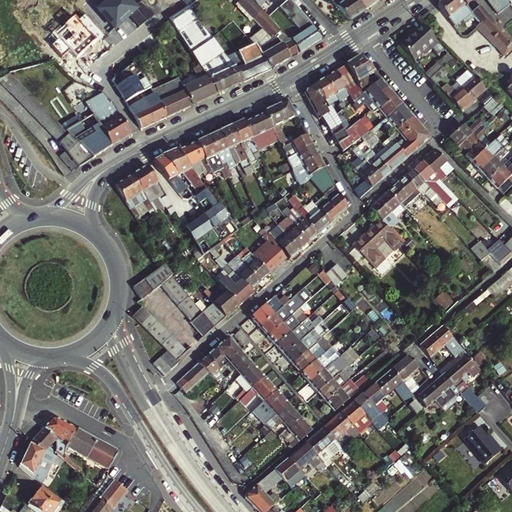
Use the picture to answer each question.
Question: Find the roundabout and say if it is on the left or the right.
left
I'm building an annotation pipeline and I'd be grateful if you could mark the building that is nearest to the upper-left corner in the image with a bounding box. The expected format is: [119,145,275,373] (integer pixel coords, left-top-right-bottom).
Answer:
[51,14,106,72]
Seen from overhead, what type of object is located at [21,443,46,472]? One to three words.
building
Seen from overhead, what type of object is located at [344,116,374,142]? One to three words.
house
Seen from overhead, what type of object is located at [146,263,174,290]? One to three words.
building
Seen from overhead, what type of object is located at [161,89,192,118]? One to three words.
house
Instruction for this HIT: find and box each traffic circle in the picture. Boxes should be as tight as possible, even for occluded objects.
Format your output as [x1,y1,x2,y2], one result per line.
[0,204,132,367]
